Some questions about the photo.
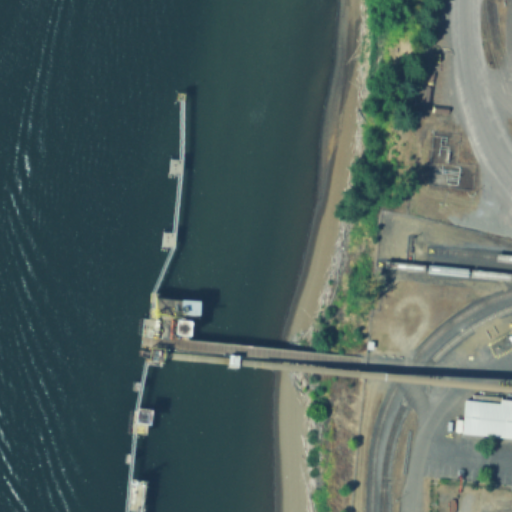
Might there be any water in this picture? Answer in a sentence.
Yes, water shows up in the scene.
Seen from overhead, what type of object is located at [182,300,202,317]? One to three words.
house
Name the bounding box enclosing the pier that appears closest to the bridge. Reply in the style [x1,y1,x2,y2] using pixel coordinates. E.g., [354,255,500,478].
[141,298,184,350]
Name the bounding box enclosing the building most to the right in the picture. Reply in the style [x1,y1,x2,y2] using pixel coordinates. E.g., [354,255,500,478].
[466,395,512,440]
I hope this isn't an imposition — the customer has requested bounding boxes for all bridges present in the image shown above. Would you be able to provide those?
[171,339,374,368]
